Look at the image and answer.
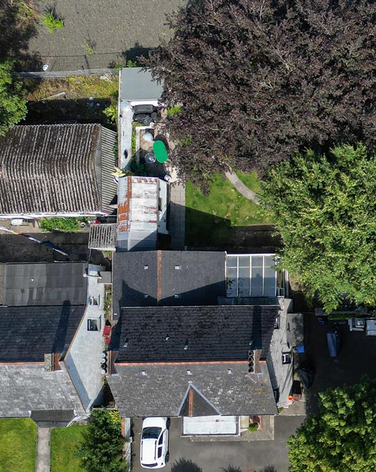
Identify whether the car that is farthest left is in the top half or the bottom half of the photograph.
bottom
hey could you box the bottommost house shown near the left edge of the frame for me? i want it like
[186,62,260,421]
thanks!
[0,290,108,432]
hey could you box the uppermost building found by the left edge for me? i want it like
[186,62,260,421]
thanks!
[0,123,117,219]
